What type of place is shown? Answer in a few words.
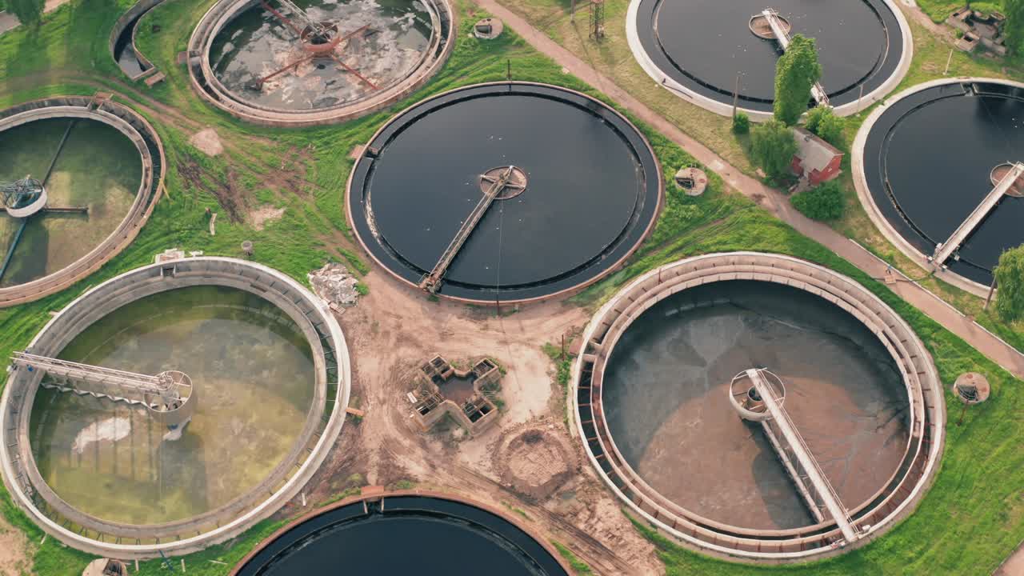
industrial area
